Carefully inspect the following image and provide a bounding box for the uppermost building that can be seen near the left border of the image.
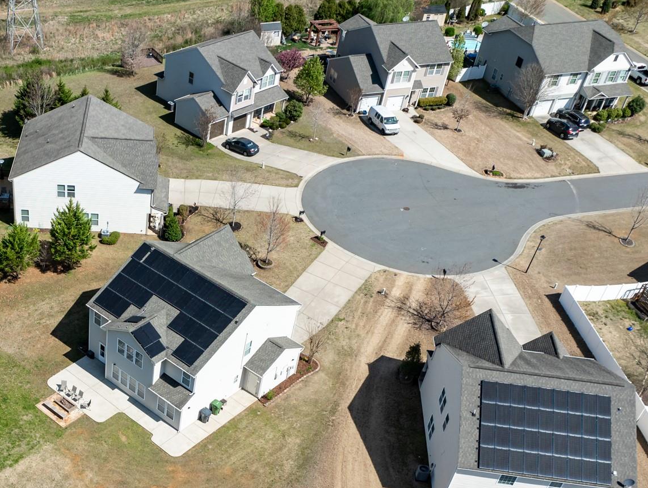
[7,94,171,235]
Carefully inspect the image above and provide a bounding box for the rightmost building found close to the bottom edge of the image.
[413,308,639,488]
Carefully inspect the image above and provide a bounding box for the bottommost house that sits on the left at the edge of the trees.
[85,226,304,434]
